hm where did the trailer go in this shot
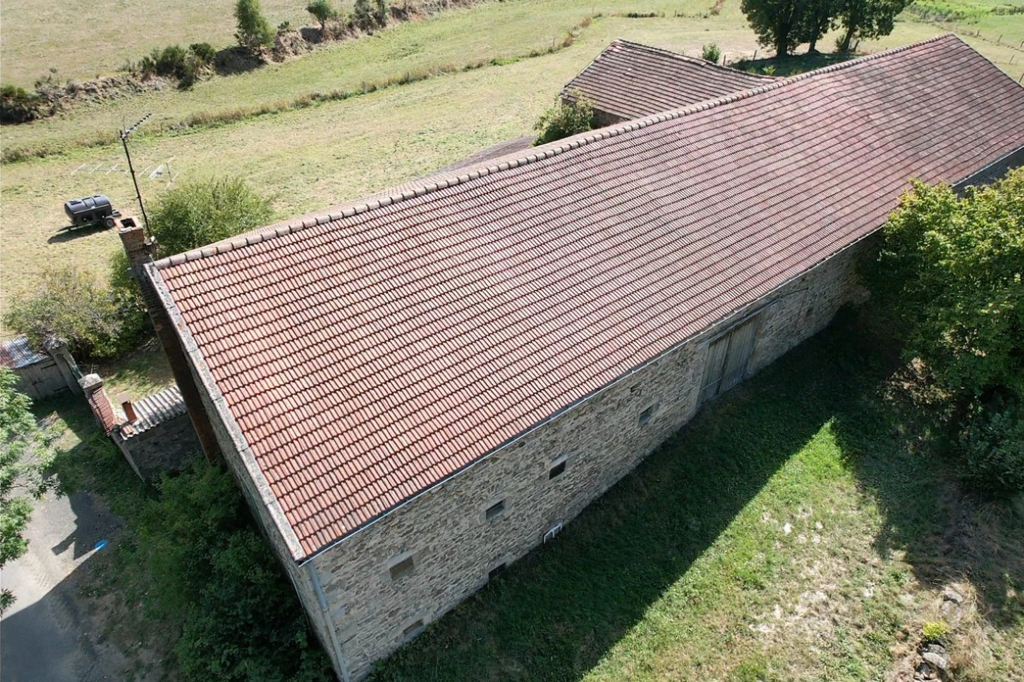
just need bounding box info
[51,192,121,229]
